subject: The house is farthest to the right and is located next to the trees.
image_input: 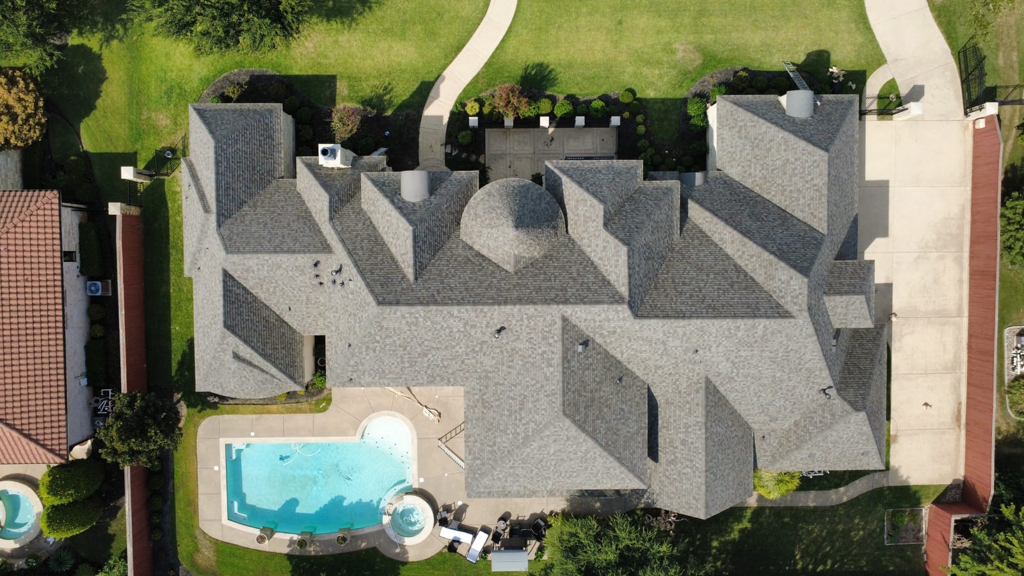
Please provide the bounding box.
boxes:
[181,83,887,516]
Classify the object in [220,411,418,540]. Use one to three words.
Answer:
swimming pool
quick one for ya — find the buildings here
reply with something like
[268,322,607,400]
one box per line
[181,83,887,516]
[0,188,94,466]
